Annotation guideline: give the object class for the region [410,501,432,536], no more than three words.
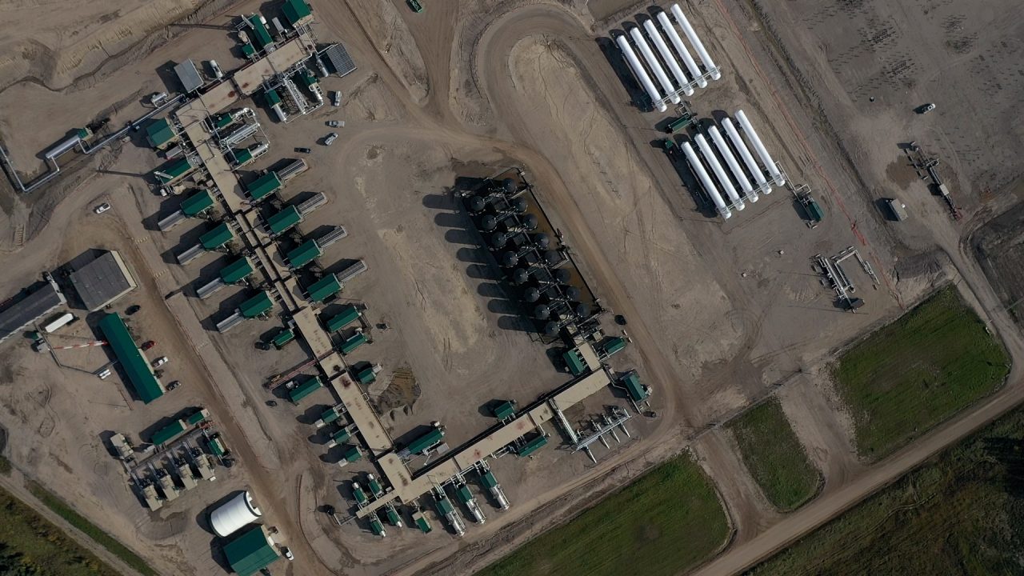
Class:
shed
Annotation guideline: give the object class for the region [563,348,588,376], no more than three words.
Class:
building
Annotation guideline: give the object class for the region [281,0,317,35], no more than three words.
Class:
building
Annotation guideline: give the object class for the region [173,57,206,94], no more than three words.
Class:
shed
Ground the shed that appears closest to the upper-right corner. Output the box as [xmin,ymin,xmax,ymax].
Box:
[796,192,824,226]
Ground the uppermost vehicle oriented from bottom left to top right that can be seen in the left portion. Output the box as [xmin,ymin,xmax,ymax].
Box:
[323,132,338,146]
